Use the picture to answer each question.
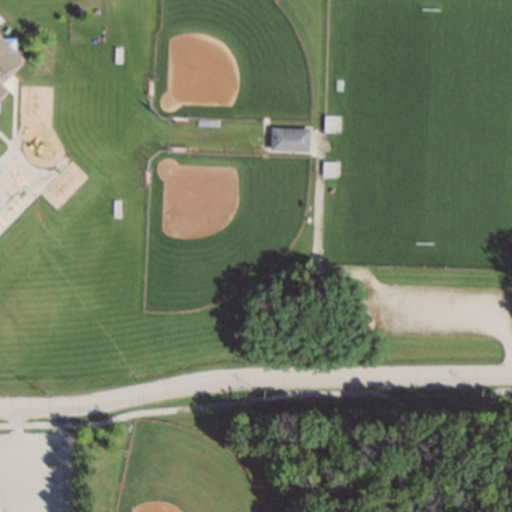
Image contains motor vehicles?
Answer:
No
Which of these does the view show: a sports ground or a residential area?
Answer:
sports ground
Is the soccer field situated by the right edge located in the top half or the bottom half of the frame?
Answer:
top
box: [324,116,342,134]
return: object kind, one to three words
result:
building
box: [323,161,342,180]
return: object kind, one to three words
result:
building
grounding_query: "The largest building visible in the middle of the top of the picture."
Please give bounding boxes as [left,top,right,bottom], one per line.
[264,118,320,156]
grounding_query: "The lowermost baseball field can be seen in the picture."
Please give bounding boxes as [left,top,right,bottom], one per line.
[116,418,258,512]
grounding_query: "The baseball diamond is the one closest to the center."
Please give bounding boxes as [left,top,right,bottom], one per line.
[146,152,310,312]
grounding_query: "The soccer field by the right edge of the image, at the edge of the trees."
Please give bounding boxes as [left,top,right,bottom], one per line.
[327,0,512,268]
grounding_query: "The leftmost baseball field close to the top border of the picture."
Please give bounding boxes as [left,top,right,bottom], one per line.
[153,0,312,121]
